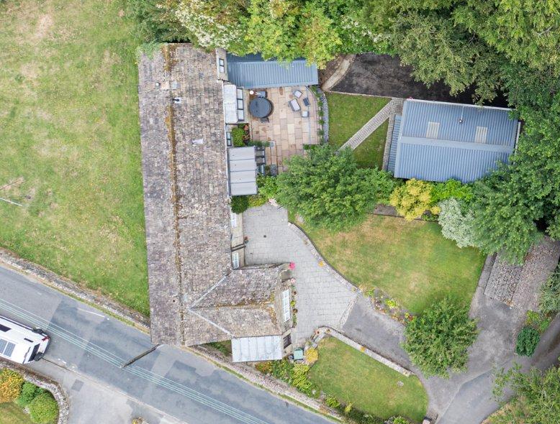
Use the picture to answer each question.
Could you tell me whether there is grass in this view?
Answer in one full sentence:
Yes, grass shows up in the scene.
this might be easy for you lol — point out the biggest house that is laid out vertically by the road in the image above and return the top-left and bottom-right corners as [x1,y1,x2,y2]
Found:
[137,38,290,350]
